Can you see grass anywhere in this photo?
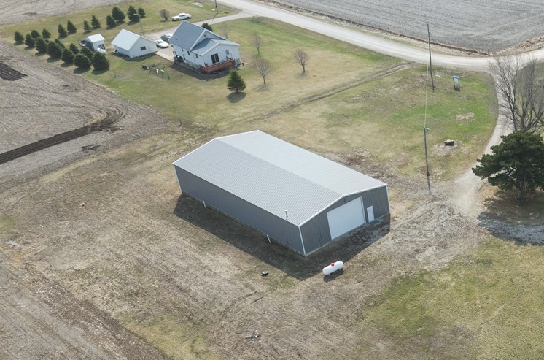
Yes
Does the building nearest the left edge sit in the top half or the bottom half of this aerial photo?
top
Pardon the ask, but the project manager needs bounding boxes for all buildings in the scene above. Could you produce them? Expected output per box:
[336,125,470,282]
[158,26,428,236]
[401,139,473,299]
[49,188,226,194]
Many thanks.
[171,130,391,256]
[80,30,107,51]
[167,21,241,76]
[108,28,159,59]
